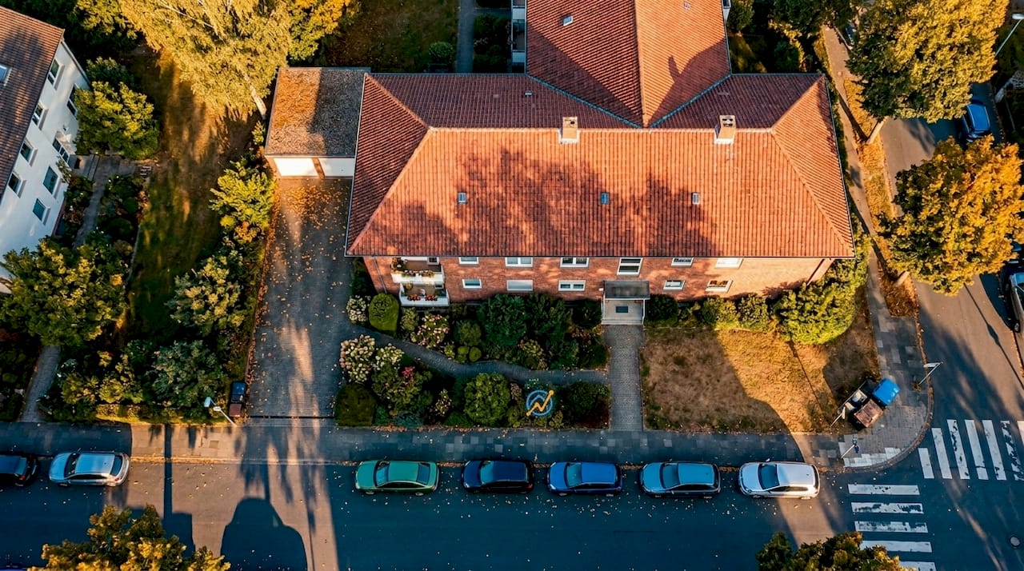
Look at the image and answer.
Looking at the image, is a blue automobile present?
Yes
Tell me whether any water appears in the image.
No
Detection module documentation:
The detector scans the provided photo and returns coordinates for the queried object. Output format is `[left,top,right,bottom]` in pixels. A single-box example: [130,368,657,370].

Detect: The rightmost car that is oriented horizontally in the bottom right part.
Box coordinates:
[737,459,821,499]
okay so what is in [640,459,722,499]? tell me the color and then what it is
blue car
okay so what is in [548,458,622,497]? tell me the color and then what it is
blue car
